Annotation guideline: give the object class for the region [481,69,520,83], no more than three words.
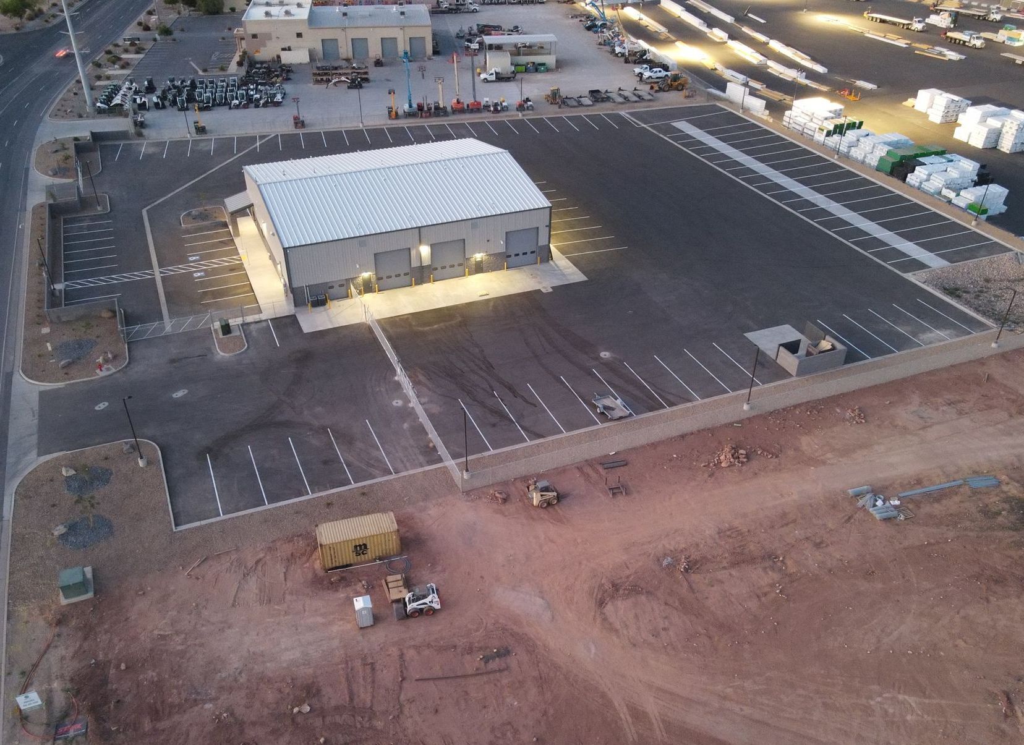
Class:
vehicle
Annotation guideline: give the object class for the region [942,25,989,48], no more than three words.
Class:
truck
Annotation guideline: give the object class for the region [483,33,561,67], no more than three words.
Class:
shed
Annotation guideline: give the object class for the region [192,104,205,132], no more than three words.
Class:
vehicle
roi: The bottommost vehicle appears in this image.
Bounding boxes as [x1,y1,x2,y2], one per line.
[392,577,446,620]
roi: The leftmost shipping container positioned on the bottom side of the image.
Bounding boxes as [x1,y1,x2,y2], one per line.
[314,507,403,569]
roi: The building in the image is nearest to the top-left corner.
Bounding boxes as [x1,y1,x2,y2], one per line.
[235,0,432,61]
